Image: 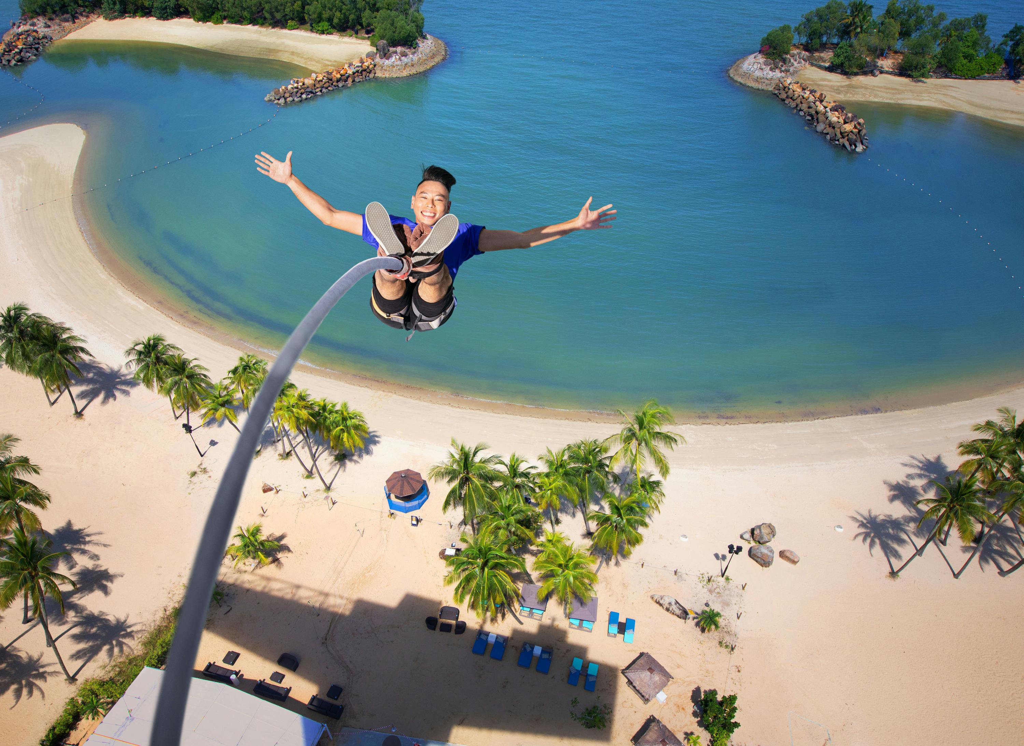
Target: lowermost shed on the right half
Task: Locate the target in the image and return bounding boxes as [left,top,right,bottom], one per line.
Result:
[632,718,685,746]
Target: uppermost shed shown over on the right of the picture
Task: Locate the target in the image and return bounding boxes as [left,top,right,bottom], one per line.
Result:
[619,651,675,711]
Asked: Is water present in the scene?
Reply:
Yes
